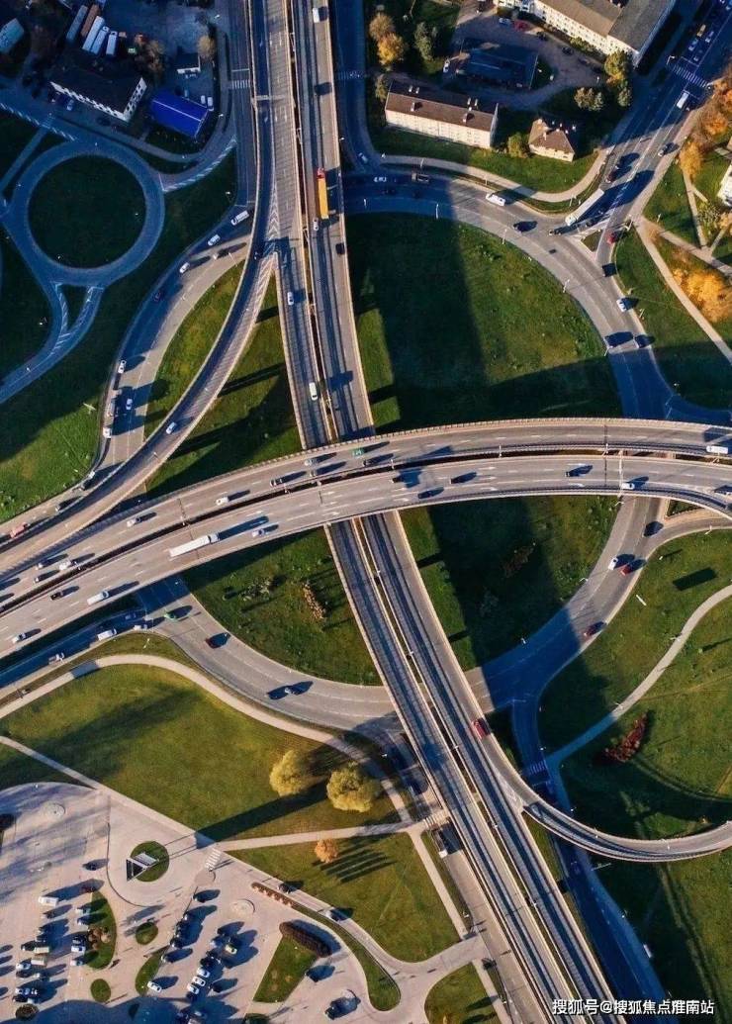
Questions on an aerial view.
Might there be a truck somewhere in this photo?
Yes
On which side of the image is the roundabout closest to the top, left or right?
left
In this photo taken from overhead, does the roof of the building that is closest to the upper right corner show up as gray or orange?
gray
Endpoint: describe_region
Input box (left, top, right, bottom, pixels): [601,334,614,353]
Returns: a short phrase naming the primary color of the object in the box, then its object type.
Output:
gray vehicle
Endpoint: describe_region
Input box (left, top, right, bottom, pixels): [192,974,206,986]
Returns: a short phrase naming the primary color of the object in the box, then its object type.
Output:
white vehicle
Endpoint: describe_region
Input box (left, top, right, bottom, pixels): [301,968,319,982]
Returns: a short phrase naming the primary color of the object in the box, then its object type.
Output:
black vehicle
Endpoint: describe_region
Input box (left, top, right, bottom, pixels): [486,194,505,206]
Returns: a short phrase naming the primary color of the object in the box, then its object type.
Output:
white vehicle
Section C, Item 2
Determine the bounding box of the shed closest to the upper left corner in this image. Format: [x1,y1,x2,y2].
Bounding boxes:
[0,15,31,62]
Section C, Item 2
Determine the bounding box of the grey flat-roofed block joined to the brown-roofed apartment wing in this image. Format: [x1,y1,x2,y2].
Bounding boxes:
[601,0,677,74]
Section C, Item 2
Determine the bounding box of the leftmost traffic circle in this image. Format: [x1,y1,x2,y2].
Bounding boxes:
[12,140,162,332]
